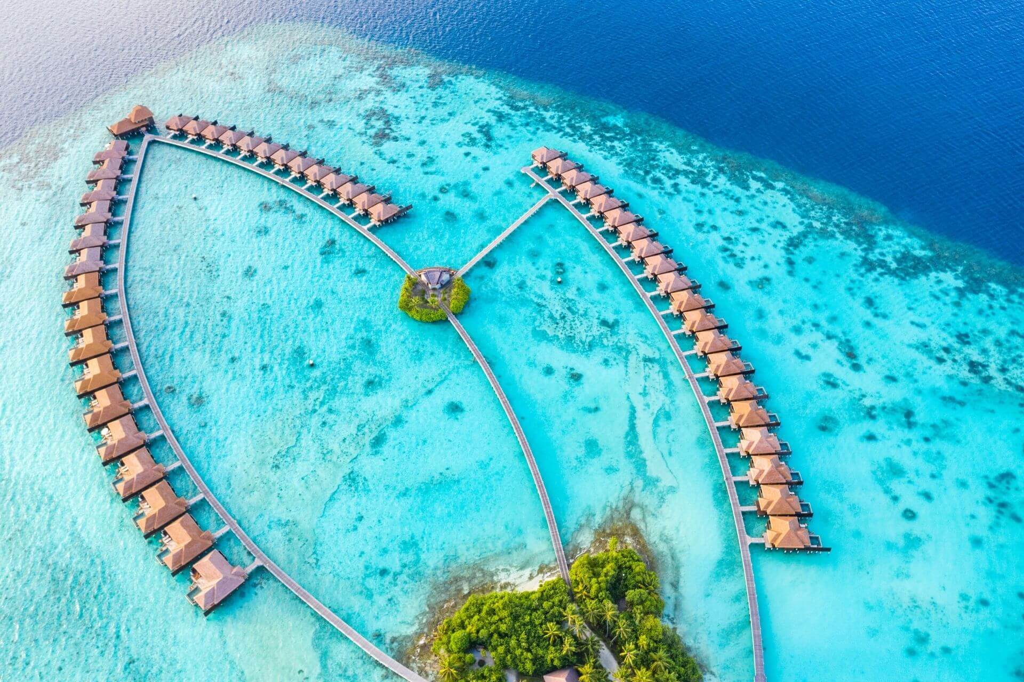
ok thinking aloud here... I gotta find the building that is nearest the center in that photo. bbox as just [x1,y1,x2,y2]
[415,265,456,291]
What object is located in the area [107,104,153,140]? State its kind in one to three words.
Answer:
building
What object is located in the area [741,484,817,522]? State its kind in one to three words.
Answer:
house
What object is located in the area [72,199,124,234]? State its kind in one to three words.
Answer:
house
